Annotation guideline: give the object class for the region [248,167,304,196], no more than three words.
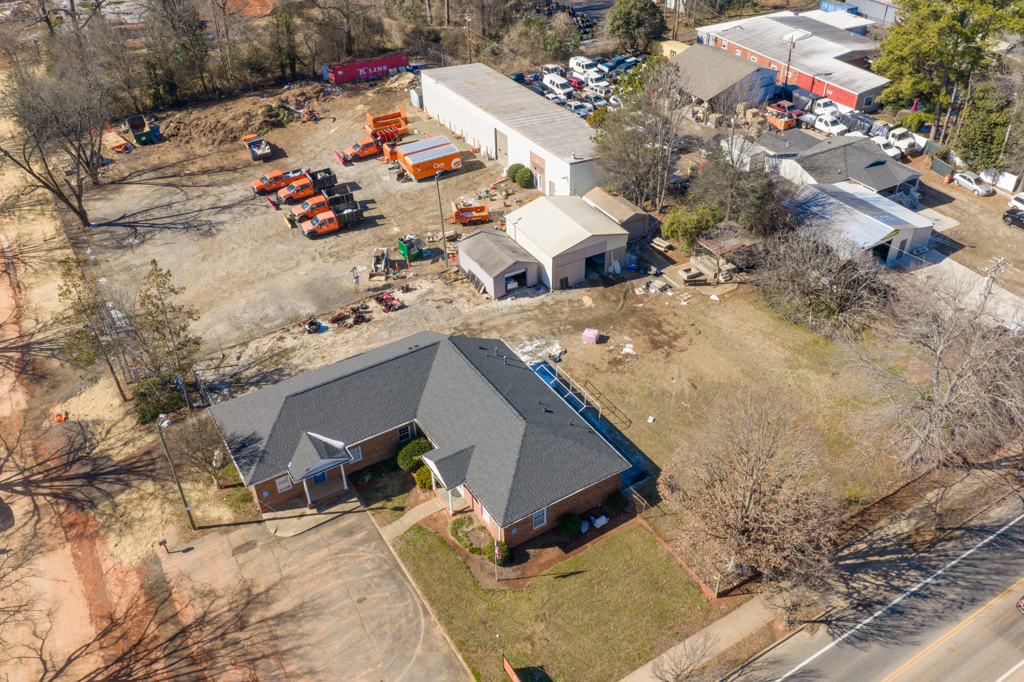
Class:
truck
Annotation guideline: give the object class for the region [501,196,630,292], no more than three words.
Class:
barn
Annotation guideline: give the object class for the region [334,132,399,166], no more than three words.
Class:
truck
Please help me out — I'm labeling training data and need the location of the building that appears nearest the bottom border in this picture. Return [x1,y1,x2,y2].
[208,331,632,545]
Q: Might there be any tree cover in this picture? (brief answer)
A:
Yes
